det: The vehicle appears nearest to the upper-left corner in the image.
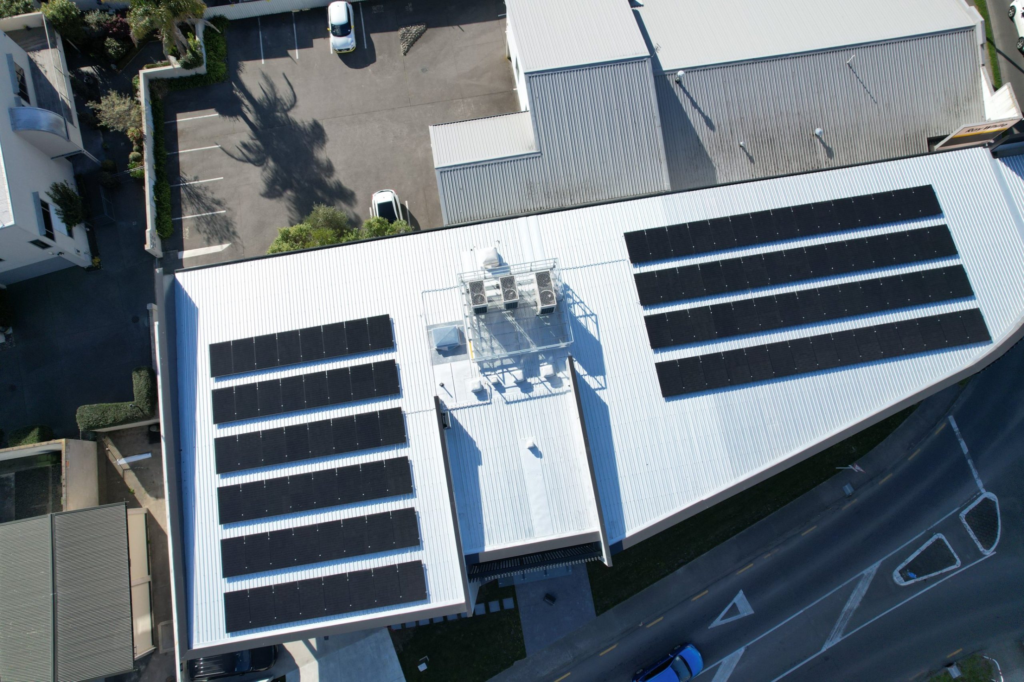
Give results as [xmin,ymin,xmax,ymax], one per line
[326,0,360,56]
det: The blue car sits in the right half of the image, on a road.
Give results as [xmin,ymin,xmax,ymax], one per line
[630,641,705,682]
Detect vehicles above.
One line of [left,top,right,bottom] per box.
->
[372,189,406,235]
[630,641,705,682]
[326,0,360,56]
[179,644,280,680]
[1007,0,1024,52]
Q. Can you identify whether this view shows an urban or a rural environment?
urban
